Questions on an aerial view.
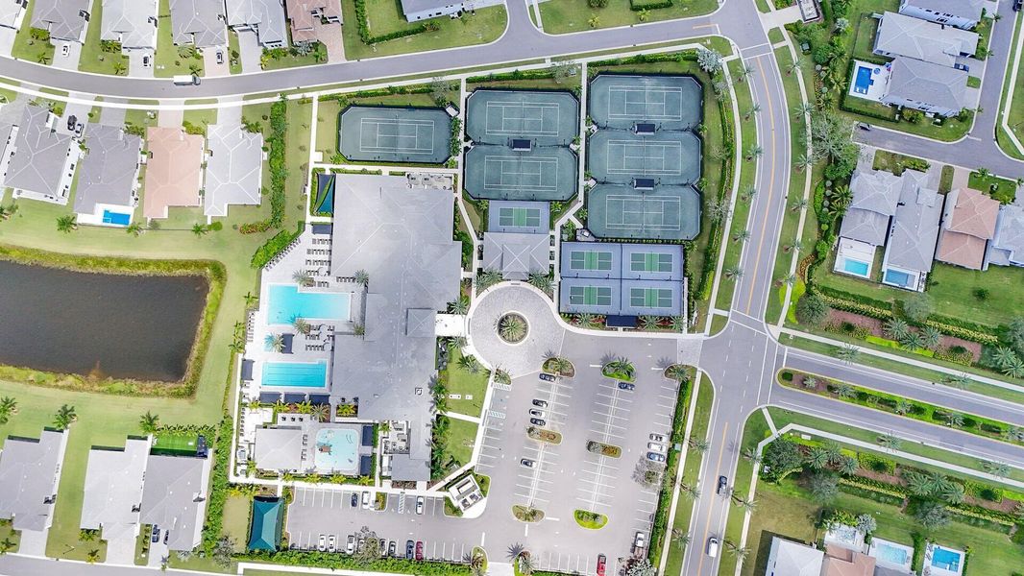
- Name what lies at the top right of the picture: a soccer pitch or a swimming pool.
swimming pool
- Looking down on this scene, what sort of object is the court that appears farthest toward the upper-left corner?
tennis court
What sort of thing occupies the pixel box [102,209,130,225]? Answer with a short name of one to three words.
swimming pool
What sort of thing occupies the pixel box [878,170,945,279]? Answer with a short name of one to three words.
house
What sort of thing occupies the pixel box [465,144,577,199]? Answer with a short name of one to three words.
tennis court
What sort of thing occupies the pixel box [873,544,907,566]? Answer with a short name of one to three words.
swimming pool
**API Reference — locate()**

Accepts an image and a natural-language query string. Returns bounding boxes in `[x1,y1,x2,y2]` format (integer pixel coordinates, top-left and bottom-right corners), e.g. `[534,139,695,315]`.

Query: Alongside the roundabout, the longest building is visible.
[332,173,461,482]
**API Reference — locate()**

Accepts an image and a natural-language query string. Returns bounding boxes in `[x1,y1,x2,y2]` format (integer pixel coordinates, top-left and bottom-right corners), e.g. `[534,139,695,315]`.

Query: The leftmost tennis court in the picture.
[338,106,451,164]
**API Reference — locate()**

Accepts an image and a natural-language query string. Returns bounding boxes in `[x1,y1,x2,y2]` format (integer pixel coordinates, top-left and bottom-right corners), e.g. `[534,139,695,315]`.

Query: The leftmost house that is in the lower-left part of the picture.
[0,428,70,530]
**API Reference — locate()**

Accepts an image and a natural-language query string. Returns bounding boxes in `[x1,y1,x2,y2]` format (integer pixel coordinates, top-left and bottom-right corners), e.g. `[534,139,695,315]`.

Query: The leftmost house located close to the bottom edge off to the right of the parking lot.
[760,533,824,576]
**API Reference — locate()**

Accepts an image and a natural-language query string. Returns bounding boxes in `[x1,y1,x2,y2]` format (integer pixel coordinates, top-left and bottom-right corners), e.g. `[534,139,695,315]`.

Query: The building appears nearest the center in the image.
[482,232,551,280]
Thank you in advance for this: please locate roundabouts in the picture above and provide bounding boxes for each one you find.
[471,288,566,379]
